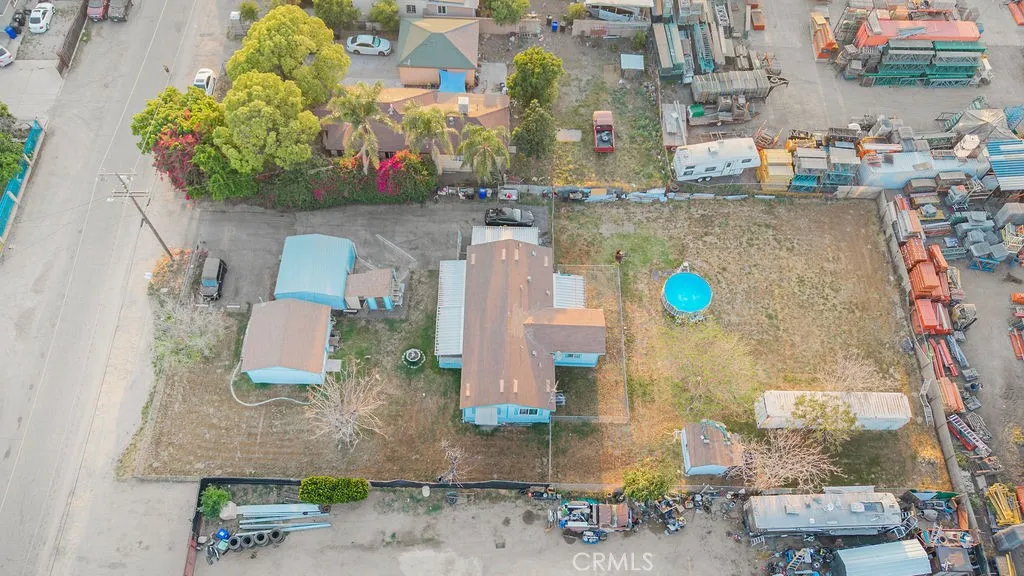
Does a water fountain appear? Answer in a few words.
Yes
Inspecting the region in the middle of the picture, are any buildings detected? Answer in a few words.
Yes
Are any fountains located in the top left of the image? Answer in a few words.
No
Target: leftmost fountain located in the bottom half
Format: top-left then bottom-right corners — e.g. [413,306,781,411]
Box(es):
[400,349,428,375]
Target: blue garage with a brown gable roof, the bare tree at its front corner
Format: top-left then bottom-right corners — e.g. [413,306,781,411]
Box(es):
[242,293,339,382]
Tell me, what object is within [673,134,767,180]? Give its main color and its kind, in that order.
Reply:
white trailer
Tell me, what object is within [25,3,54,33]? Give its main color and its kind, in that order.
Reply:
white car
